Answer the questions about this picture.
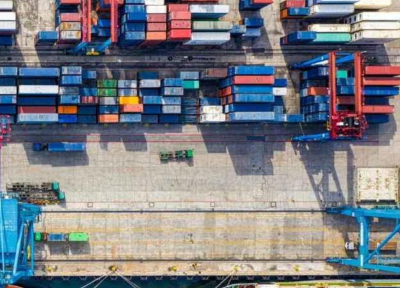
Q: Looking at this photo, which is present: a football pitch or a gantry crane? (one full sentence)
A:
The image shows a gantry crane.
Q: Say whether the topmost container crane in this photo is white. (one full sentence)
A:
No, the topmost container crane is red.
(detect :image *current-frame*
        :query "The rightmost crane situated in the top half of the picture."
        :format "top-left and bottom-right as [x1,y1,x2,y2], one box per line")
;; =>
[286,50,368,145]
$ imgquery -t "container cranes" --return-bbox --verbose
[0,173,40,288]
[286,50,368,145]
[62,0,119,56]
[325,207,400,278]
